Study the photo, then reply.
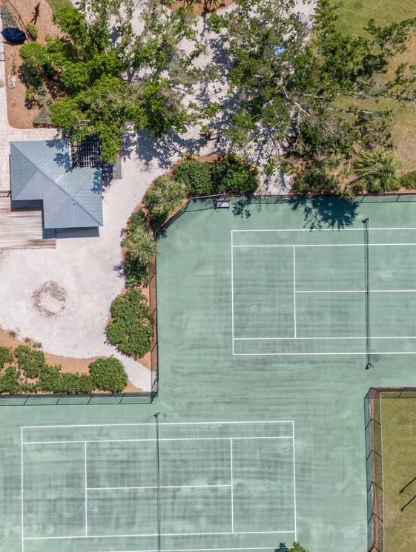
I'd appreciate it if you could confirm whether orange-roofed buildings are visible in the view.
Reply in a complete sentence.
No, this view has no orange-roofed building in it.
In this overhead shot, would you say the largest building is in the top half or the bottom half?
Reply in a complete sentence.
You can find the largest building in the top half.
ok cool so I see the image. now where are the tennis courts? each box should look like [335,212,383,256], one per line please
[0,387,375,552]
[156,193,416,392]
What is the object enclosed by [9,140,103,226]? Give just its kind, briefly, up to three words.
building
